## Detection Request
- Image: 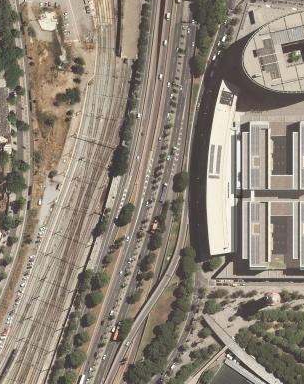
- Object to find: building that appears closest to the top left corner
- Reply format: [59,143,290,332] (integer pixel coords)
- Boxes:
[38,12,58,32]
